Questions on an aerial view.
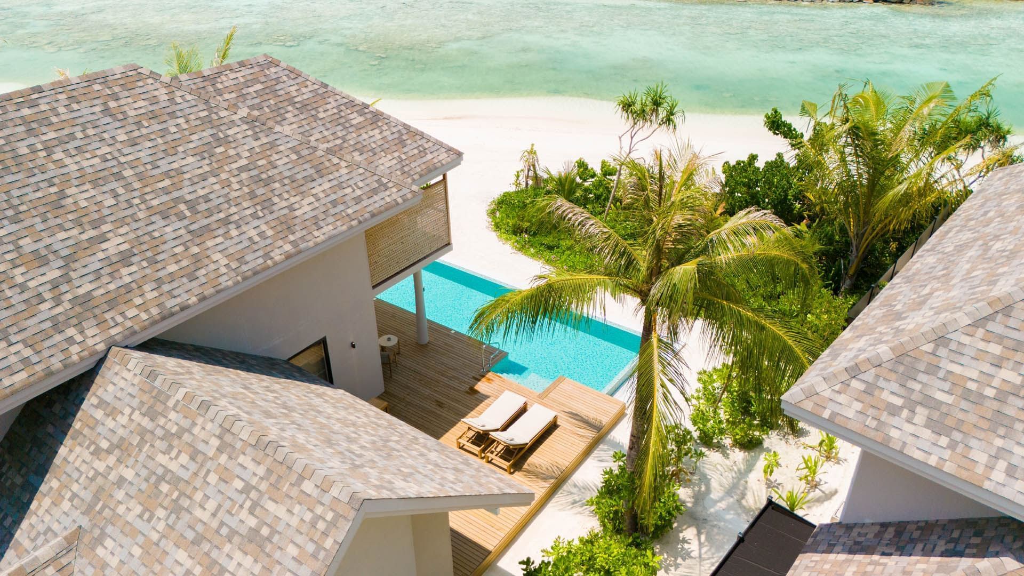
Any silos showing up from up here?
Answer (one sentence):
No, the frame has no silo in it.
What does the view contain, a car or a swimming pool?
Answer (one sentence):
This aerial view contains a swimming pool.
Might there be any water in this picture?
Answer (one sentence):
Yes, there's water in this view.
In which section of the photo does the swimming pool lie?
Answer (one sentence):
The swimming pool is located in the center region of the scene.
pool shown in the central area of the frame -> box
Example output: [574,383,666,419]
[374,259,661,399]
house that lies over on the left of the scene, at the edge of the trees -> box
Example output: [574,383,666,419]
[0,54,535,576]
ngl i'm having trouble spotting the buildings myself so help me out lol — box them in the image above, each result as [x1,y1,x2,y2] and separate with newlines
[0,54,535,576]
[777,163,1024,576]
